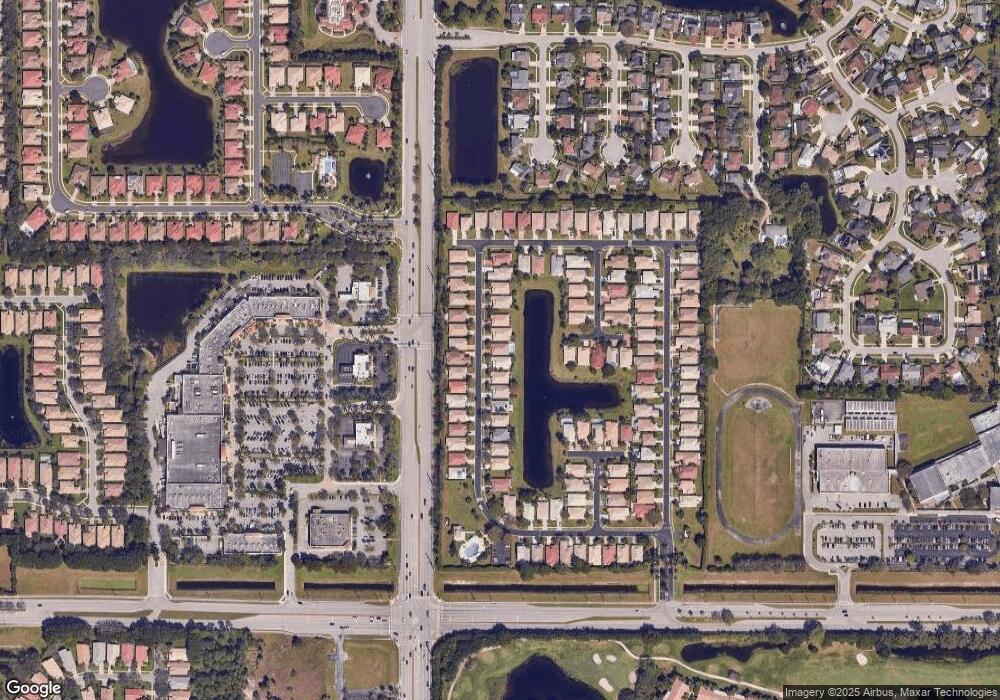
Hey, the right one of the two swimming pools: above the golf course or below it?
above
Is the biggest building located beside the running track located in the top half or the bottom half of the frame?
bottom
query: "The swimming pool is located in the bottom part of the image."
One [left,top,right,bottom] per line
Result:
[460,536,485,563]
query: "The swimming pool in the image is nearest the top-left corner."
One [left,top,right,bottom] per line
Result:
[319,156,336,179]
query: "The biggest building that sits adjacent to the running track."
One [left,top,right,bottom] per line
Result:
[816,447,890,493]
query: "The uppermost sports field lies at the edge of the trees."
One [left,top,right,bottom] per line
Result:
[718,298,799,392]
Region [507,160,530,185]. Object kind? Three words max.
house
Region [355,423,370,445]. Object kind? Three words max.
building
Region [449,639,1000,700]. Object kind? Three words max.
golf course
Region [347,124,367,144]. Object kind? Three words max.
house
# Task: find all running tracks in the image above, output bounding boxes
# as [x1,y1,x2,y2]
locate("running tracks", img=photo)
[716,383,803,544]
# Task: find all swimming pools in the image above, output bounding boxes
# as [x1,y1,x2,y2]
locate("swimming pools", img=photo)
[319,156,336,179]
[460,536,485,563]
